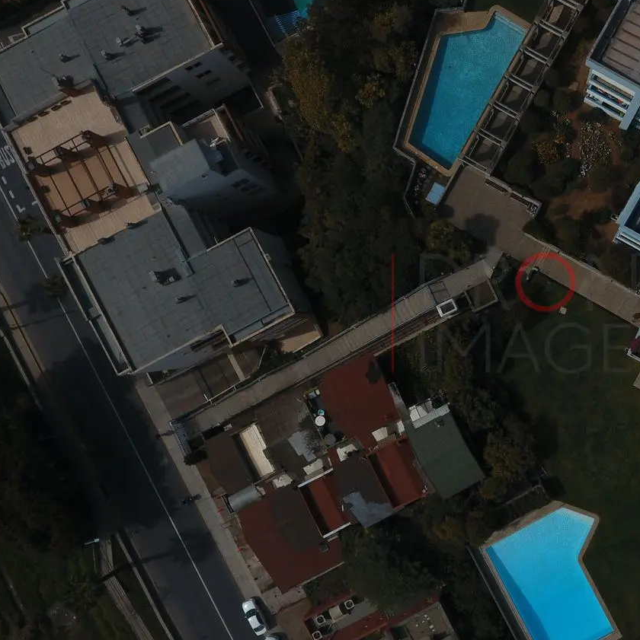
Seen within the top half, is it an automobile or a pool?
pool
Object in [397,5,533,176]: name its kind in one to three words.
swimming pool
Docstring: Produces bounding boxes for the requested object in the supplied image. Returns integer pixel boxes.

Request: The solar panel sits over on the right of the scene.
[425,182,446,205]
